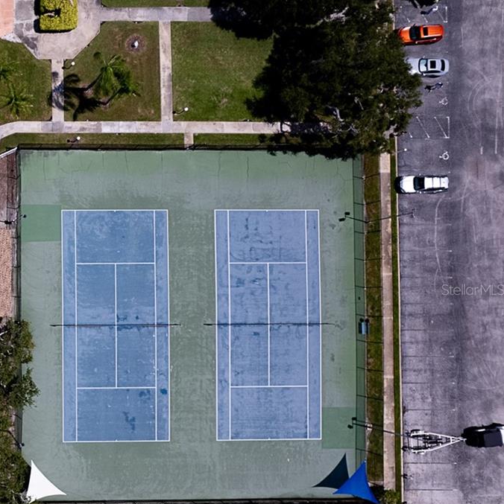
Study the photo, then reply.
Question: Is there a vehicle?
Yes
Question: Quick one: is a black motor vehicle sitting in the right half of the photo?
Yes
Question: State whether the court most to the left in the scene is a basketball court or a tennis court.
tennis court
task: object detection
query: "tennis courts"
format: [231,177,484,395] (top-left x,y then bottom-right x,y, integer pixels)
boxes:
[205,210,336,441]
[51,210,183,443]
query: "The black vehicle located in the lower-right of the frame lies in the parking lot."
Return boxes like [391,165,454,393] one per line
[464,426,504,447]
